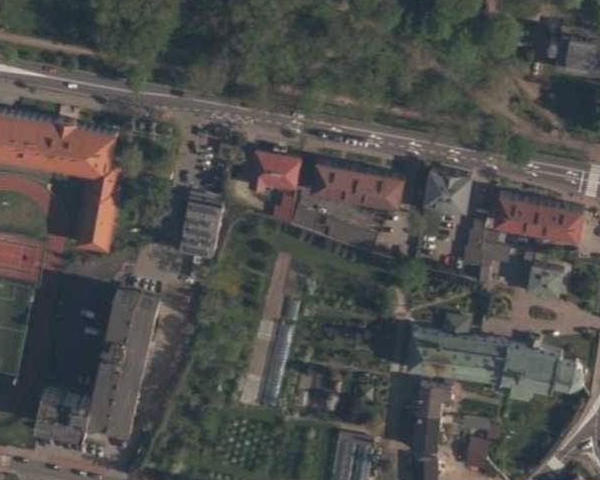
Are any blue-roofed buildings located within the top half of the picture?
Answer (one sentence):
No, there is no blue-roofed building within the top half of the picture.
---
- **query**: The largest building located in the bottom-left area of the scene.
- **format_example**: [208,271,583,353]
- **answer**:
[86,278,161,446]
